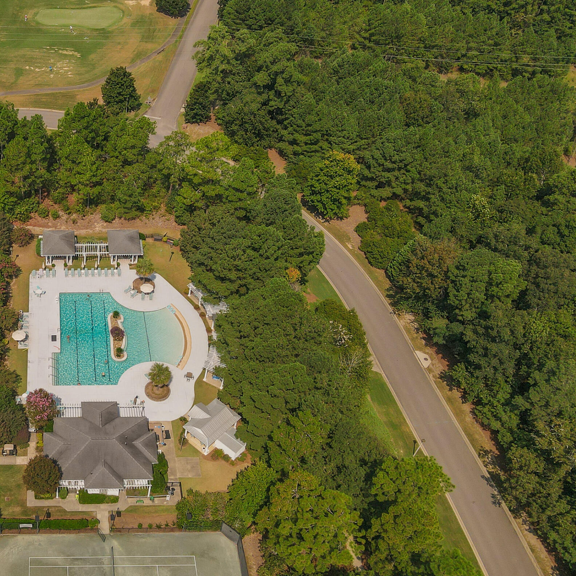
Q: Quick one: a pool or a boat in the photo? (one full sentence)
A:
Of the two, only a pool appears.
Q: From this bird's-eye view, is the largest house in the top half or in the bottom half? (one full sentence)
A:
The largest house sits in the bottom half of the picture.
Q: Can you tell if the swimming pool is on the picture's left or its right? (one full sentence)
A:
The swimming pool sits on the left side.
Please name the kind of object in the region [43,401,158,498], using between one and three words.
house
